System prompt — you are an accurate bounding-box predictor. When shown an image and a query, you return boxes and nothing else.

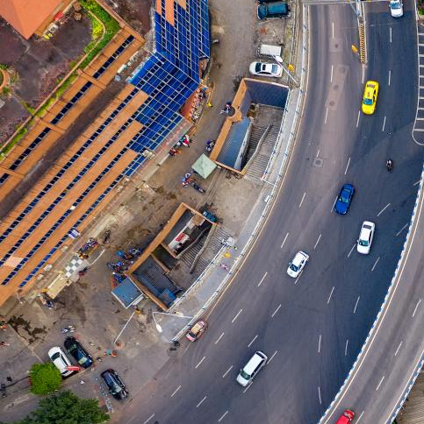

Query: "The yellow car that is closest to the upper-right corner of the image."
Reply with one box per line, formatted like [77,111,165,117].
[362,80,379,116]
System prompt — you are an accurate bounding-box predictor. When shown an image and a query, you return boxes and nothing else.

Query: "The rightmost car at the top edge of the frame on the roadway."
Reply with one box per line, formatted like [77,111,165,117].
[389,0,406,21]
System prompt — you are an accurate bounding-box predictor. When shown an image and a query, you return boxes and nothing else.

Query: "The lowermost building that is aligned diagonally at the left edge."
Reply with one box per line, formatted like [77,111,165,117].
[0,85,147,320]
